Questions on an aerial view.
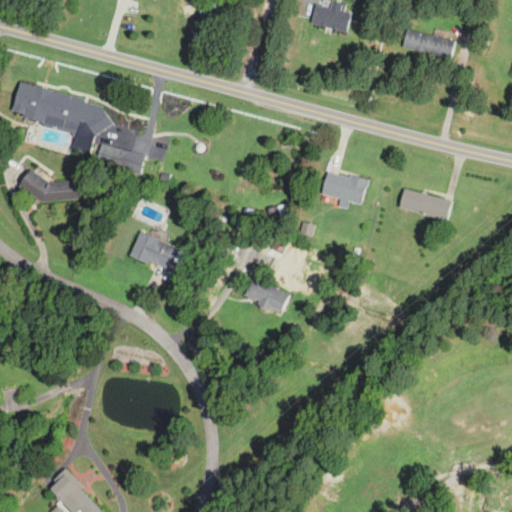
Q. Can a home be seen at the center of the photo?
Yes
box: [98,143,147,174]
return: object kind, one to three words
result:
building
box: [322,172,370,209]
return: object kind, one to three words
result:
house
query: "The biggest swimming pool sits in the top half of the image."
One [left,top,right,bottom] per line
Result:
[42,128,70,148]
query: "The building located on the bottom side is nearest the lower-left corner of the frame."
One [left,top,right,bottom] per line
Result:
[50,471,104,512]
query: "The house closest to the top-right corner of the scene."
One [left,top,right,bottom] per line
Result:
[404,30,456,57]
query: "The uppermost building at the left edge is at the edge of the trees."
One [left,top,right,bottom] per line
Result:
[12,82,114,154]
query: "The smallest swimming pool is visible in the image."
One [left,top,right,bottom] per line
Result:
[142,206,164,222]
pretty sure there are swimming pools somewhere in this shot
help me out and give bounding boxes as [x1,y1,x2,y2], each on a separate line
[42,128,70,148]
[142,206,164,222]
